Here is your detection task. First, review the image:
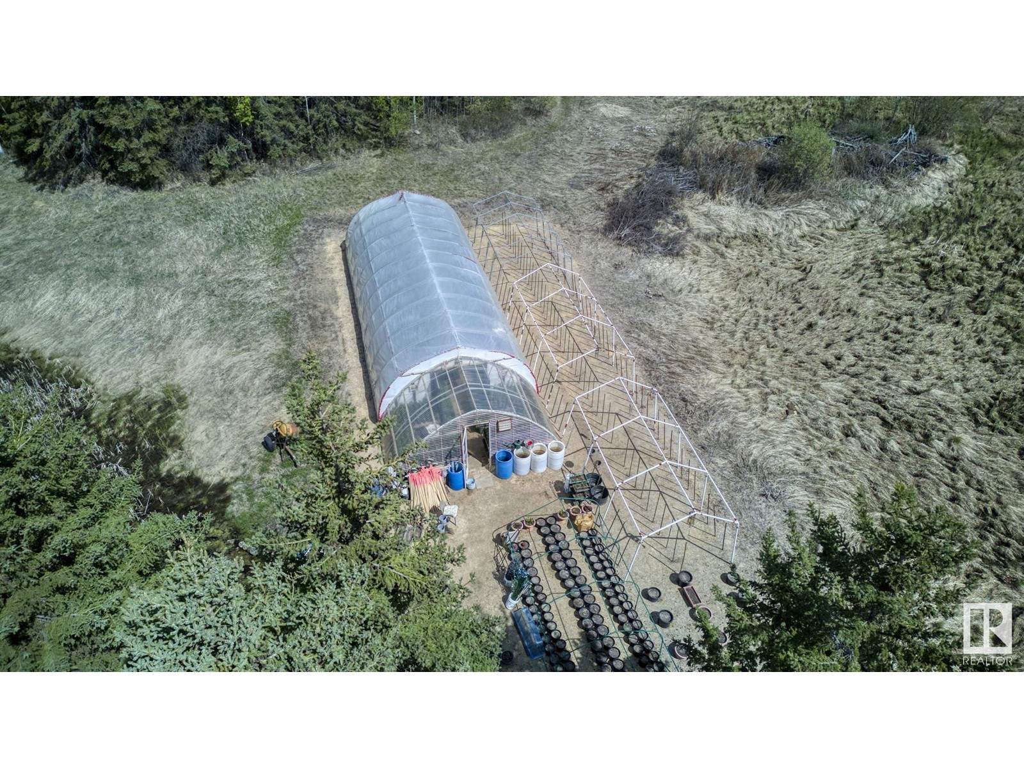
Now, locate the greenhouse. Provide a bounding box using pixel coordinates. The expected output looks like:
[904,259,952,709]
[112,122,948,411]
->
[336,190,556,490]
